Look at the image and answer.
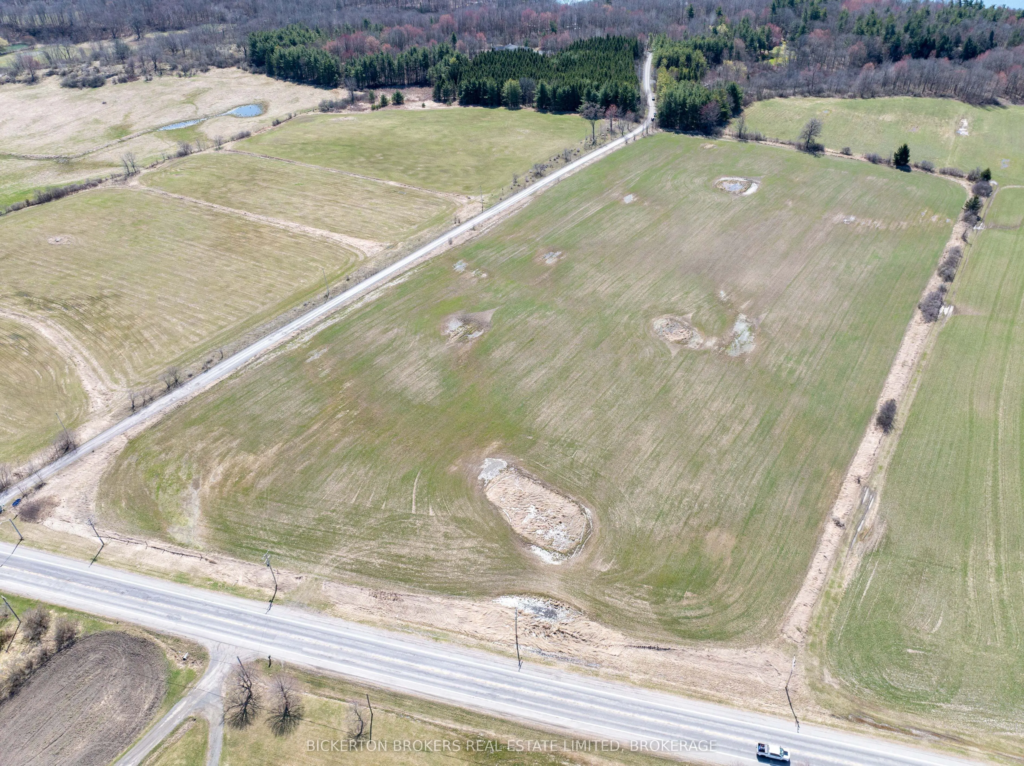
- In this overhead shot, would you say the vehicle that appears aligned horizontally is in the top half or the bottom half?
bottom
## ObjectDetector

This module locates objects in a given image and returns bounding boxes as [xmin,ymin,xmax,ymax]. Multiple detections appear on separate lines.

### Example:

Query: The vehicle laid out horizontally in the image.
[756,744,793,764]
